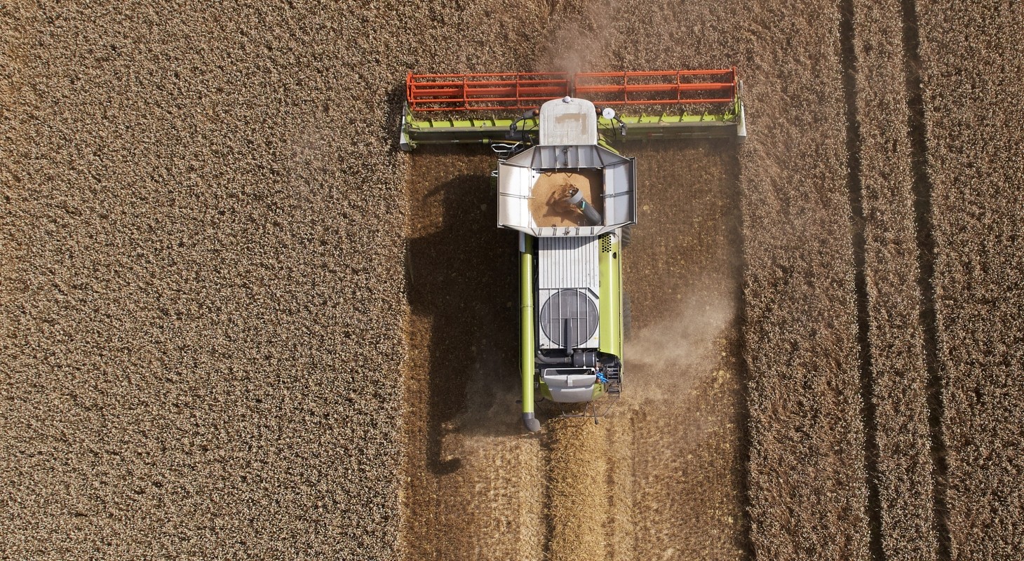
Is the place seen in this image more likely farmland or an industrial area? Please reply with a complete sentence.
What you see here is farmland.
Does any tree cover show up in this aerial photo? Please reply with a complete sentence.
No, tree cover can't be seen anywhere here.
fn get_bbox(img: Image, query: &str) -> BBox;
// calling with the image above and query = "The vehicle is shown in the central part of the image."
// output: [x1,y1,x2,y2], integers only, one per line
[398,68,748,435]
